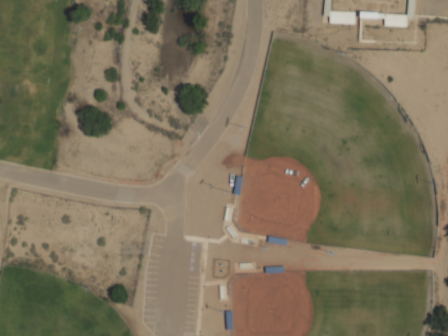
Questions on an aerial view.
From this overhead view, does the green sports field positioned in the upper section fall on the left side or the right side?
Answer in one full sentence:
The green sports field positioned in the upper section sits on the left side.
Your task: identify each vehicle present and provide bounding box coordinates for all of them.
[284,170,300,176]
[230,173,235,188]
[299,174,312,188]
